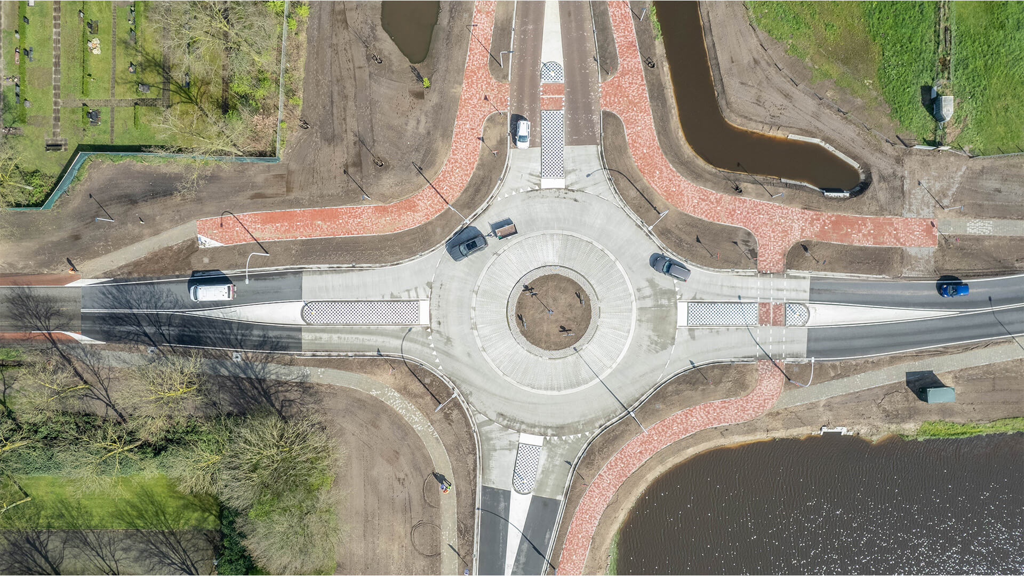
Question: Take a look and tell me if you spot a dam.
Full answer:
No, the scene contains no dam.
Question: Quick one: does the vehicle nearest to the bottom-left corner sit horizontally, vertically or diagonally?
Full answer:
From this overhead view, the vehicle nearest to the bottom-left corner appears to run horizontally.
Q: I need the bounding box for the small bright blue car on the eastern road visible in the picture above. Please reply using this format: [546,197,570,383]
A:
[940,282,972,298]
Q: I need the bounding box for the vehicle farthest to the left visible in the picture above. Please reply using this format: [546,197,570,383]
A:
[191,283,237,303]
